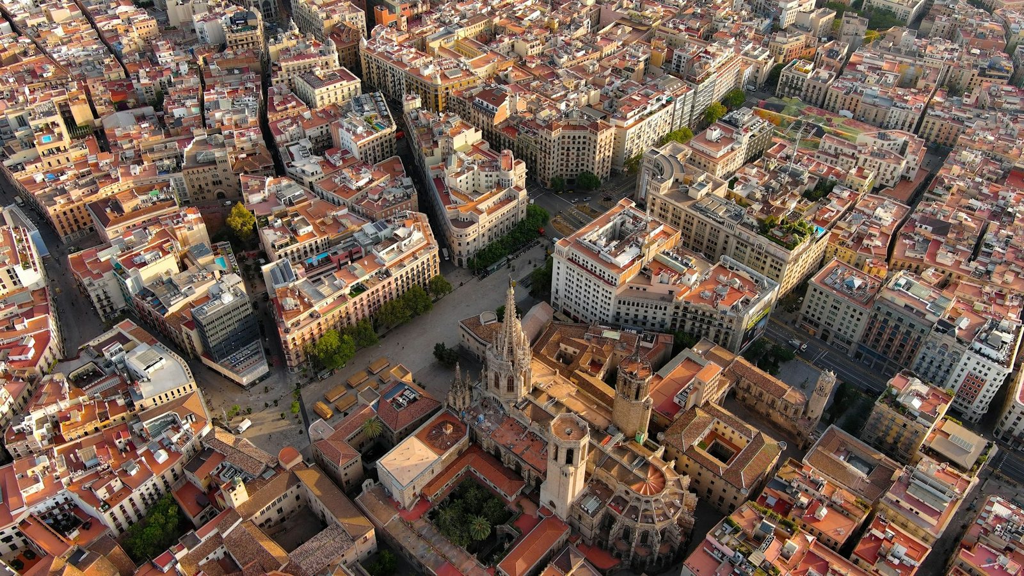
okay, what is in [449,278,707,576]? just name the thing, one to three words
church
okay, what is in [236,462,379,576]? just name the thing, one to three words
building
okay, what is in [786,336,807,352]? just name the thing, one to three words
vehicle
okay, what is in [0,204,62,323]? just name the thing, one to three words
house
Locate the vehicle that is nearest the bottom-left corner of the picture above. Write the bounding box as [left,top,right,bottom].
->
[234,417,252,431]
